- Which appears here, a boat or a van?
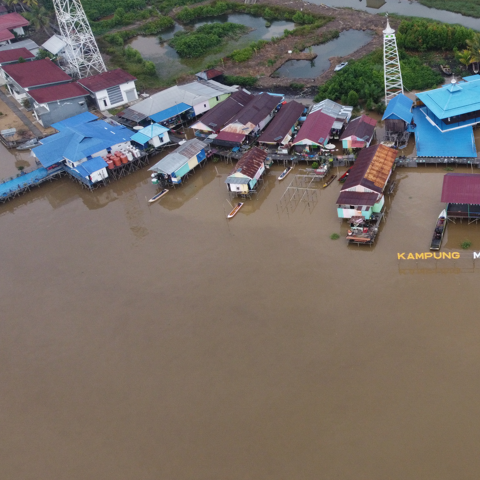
boat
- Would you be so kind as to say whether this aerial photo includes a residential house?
Yes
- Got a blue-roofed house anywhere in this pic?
Yes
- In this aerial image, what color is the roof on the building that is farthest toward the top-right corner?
blue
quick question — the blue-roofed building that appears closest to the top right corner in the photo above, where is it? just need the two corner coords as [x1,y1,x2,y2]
[415,65,480,135]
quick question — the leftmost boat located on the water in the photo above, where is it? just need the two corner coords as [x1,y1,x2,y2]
[147,190,170,203]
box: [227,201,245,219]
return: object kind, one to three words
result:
boat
